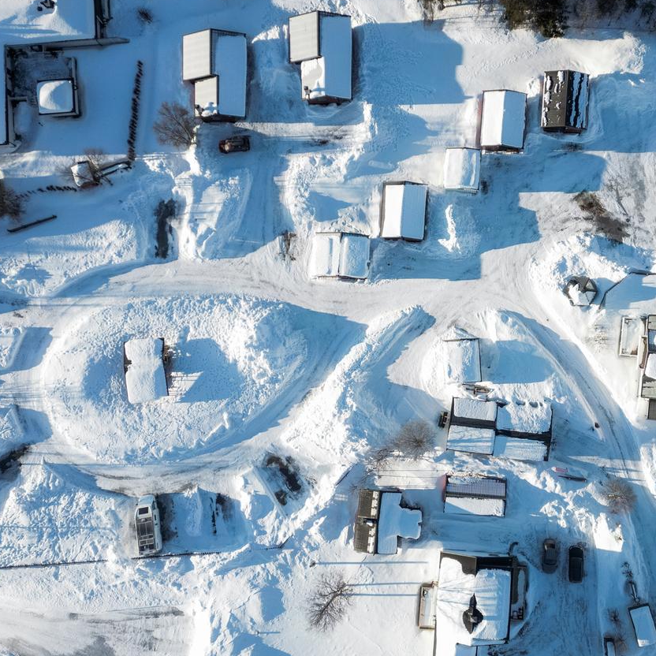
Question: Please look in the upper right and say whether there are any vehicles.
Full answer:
No, I can find no vehicle in the upper right.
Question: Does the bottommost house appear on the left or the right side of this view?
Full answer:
It is on the right.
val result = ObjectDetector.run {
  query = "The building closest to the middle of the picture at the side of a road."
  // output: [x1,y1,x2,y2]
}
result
[311,233,370,279]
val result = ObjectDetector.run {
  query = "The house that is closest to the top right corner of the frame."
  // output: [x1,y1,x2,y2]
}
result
[541,68,590,133]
